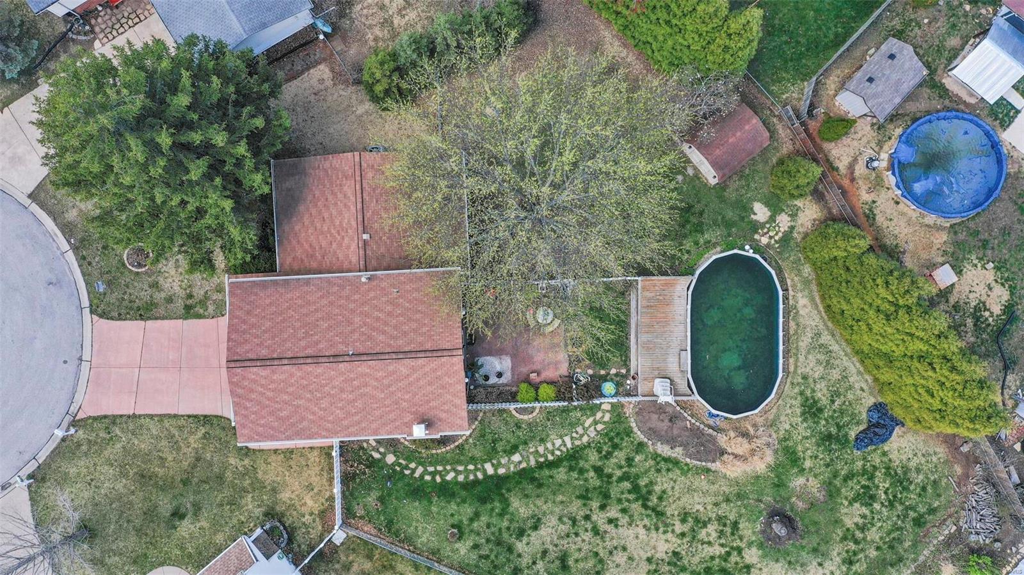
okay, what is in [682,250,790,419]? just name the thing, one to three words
swimming pool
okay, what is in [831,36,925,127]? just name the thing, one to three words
shed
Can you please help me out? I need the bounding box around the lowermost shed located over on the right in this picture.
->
[684,102,775,185]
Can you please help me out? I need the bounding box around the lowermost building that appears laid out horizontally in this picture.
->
[194,527,303,575]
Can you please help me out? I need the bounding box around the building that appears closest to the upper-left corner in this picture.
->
[151,0,316,73]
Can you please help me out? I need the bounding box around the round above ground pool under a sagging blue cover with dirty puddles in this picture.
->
[881,107,1007,223]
